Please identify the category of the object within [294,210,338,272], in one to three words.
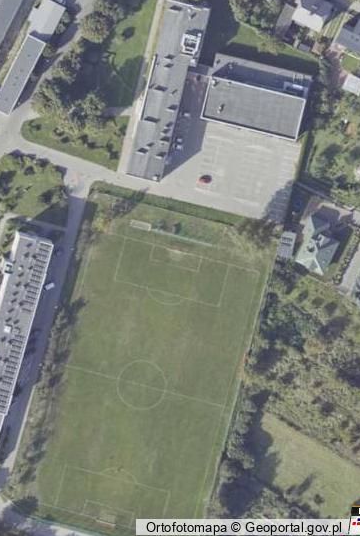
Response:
house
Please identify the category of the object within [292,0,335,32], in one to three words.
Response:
house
